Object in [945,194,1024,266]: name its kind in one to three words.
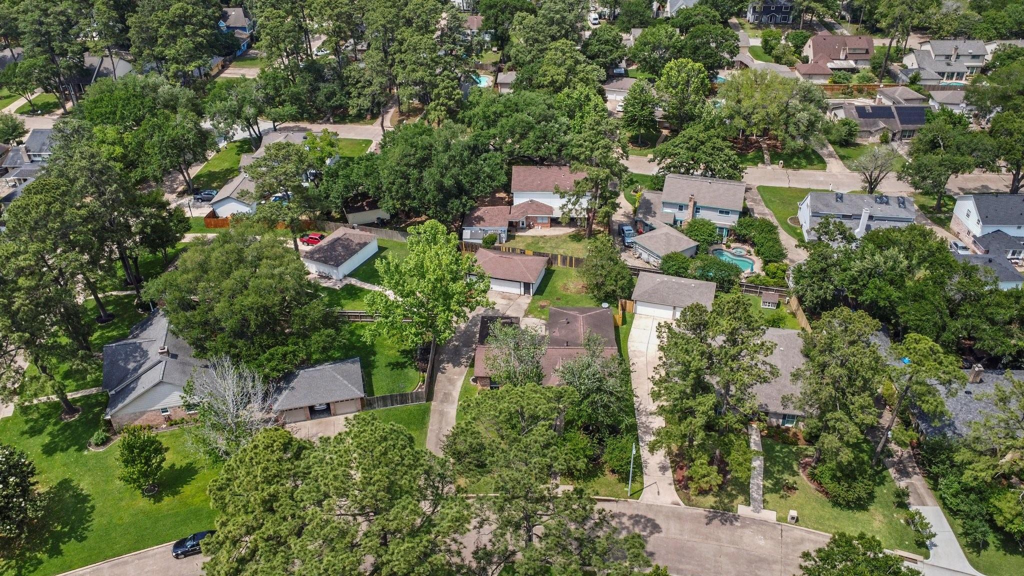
house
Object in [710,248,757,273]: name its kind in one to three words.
swimming pool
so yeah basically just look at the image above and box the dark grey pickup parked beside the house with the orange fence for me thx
[187,185,223,201]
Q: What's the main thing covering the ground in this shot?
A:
trees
